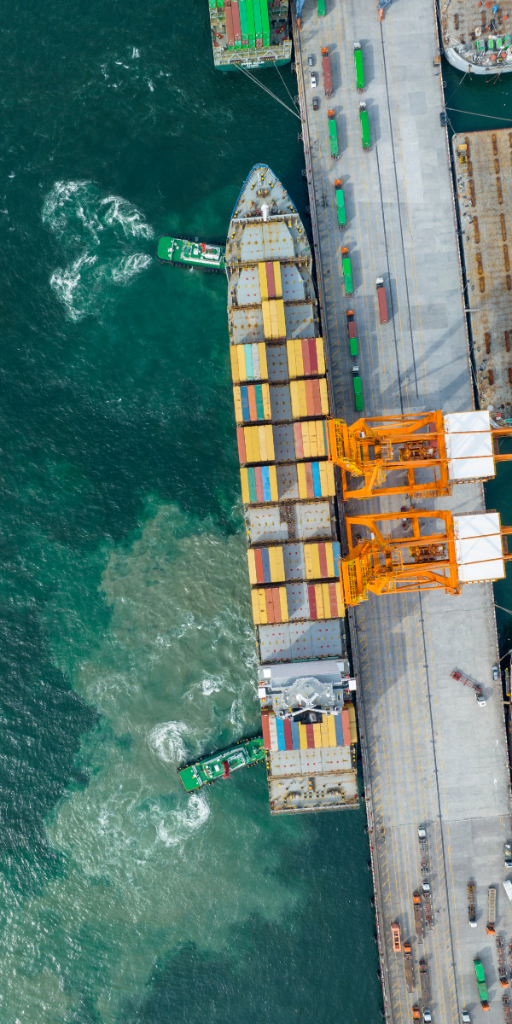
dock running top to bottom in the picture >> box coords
[289,0,512,1024]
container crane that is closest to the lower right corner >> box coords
[339,508,512,597]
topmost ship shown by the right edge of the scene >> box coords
[436,0,512,83]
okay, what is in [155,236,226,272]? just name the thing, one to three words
boat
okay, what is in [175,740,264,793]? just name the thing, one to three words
boat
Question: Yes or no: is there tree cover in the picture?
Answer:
No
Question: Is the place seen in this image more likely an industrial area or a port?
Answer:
port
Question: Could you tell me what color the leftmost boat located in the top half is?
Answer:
green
